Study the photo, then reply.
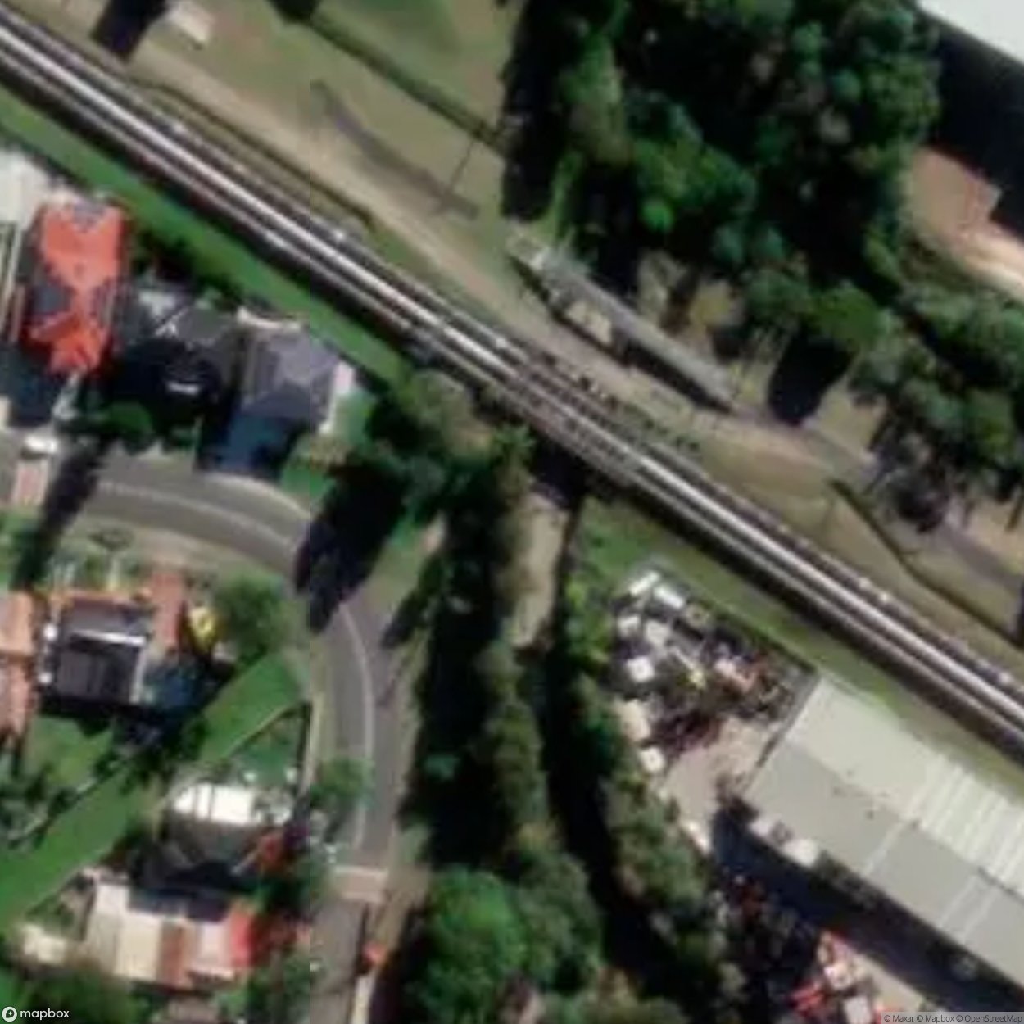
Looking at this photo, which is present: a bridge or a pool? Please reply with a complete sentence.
Of the two, only a bridge appears.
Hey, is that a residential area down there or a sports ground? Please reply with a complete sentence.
It's a residential area.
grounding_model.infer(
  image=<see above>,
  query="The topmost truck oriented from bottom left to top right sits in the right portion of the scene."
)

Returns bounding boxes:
[626,567,663,598]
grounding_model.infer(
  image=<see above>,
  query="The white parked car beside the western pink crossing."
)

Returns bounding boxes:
[25,437,57,453]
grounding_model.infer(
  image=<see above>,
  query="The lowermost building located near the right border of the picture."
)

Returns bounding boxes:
[747,676,1024,983]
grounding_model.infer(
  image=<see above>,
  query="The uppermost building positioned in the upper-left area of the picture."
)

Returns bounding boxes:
[164,0,211,40]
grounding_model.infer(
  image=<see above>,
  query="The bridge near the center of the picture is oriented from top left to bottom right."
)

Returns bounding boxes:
[498,350,670,489]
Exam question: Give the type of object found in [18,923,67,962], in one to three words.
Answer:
shed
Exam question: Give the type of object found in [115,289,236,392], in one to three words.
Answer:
house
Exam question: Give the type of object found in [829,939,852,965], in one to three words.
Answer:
car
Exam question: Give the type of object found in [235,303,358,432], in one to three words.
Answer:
house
